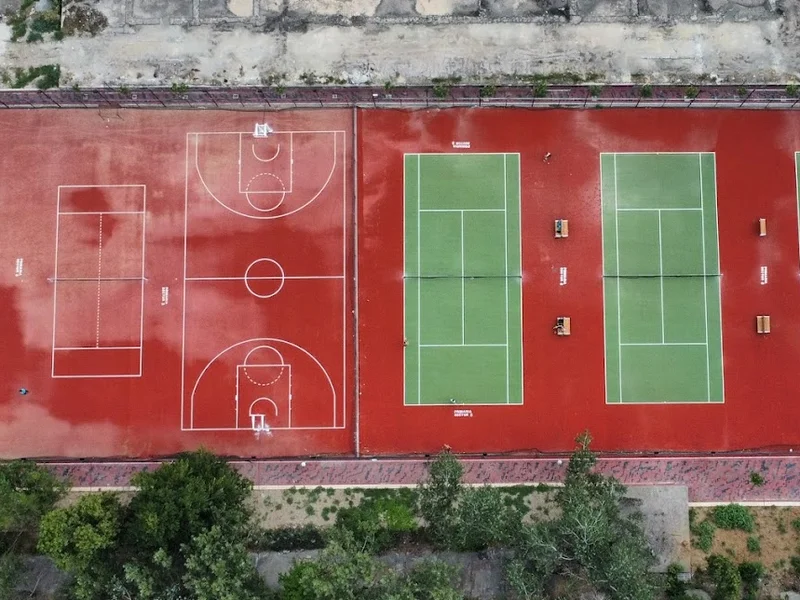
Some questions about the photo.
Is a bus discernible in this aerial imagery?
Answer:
No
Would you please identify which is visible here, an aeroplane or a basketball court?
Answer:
basketball court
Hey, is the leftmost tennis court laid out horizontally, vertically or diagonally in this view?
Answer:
vertically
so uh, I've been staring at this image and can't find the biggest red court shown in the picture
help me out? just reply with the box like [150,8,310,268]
[181,131,345,429]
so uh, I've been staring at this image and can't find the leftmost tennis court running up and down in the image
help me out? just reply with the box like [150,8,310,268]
[52,185,146,377]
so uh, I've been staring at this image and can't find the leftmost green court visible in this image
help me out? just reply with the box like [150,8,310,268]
[404,153,523,405]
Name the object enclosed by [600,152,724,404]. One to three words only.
tennis court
